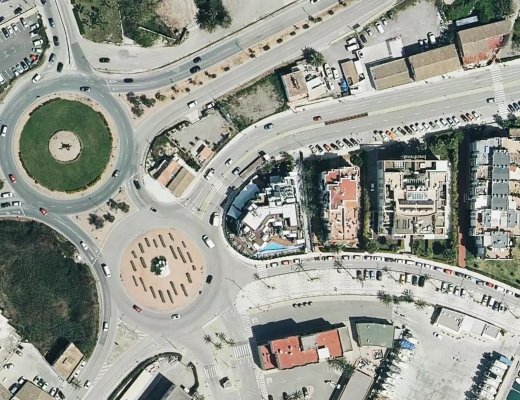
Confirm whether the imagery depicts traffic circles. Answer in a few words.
Yes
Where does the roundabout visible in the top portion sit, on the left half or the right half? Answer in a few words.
left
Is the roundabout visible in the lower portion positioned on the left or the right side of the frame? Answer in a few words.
left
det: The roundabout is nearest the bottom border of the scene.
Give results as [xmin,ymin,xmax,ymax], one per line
[97,205,227,335]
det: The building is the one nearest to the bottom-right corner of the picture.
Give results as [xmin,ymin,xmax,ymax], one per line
[436,309,501,339]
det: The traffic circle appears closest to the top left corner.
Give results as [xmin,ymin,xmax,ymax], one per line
[0,76,136,216]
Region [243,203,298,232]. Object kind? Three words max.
building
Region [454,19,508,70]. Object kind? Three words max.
shed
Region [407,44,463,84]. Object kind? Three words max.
shed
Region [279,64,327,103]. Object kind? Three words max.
house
